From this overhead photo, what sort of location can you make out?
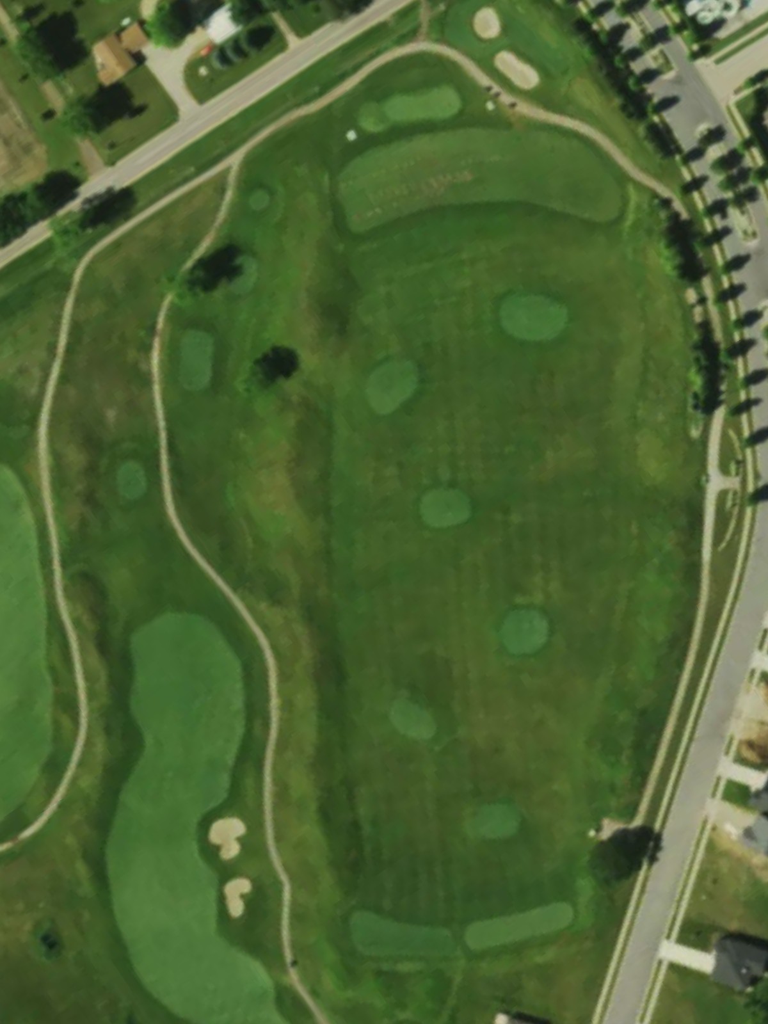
golf course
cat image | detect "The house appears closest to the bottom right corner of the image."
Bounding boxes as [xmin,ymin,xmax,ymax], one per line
[713,937,768,988]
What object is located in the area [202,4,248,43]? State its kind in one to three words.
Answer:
house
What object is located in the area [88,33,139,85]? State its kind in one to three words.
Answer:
house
